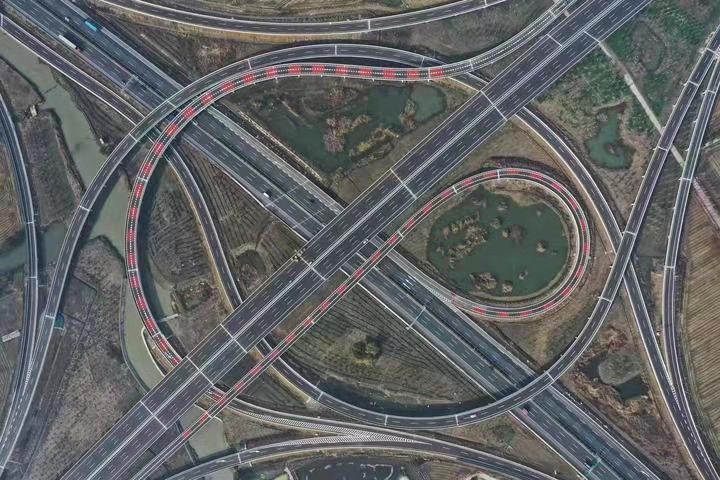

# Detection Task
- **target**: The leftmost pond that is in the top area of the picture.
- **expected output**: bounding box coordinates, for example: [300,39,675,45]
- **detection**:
[252,85,446,173]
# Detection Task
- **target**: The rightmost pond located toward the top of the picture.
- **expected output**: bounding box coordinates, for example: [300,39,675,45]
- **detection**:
[587,105,632,169]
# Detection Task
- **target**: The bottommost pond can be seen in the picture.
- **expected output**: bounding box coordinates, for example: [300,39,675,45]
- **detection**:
[288,455,409,480]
